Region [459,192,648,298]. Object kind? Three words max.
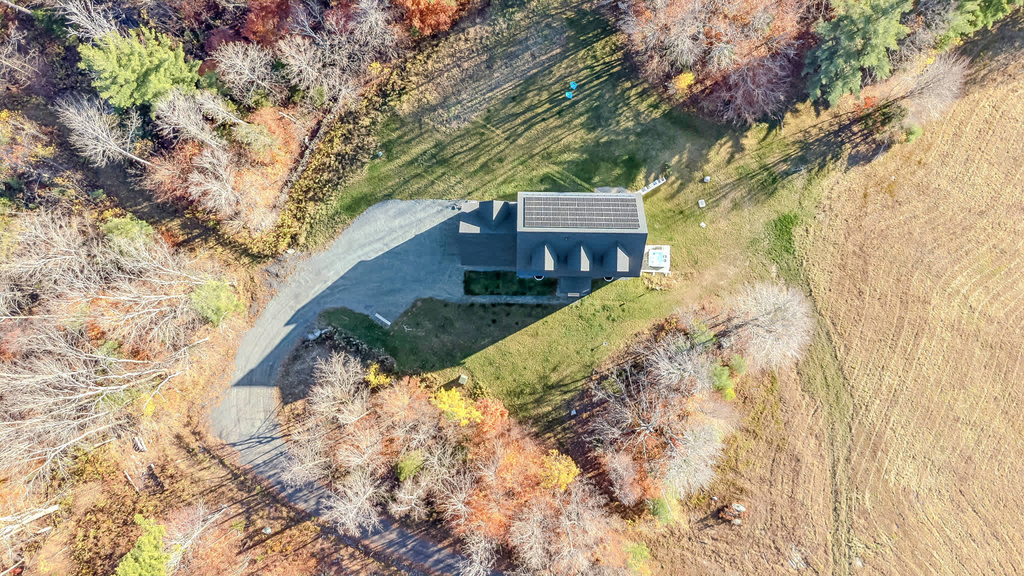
house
